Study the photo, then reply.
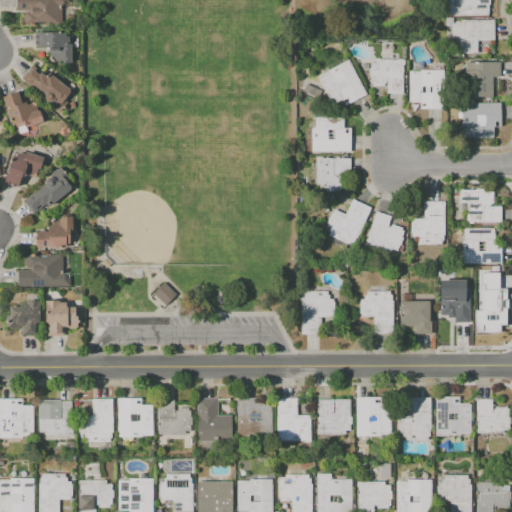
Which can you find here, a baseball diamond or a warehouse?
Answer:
baseball diamond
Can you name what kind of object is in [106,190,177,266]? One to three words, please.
baseball field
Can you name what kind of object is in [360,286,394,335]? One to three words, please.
house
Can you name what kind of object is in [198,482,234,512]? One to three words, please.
house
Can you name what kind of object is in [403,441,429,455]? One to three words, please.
swimming pool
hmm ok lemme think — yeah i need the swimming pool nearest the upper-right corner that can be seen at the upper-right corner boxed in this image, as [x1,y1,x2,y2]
[411,45,432,64]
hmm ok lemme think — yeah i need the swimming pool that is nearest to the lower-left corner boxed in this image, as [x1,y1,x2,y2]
[126,459,150,474]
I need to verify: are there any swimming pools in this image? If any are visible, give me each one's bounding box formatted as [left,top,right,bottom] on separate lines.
[126,459,150,474]
[403,441,429,455]
[448,442,466,452]
[210,464,230,476]
[351,46,372,60]
[323,272,342,290]
[411,45,432,64]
